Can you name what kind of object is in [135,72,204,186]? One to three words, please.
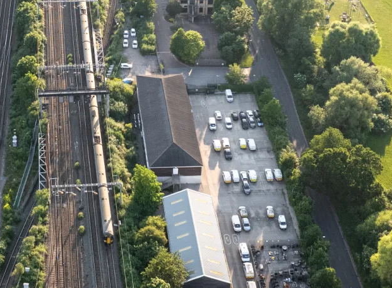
building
